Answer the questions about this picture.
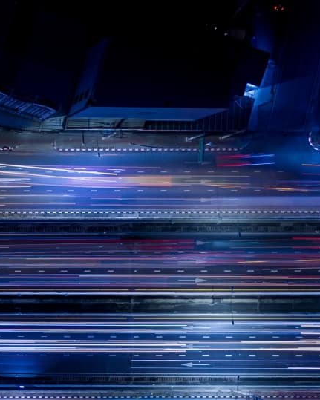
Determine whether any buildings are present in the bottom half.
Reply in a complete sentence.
No, there is no building in the bottom half.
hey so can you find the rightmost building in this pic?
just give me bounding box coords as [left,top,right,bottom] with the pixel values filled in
[252,0,304,113]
